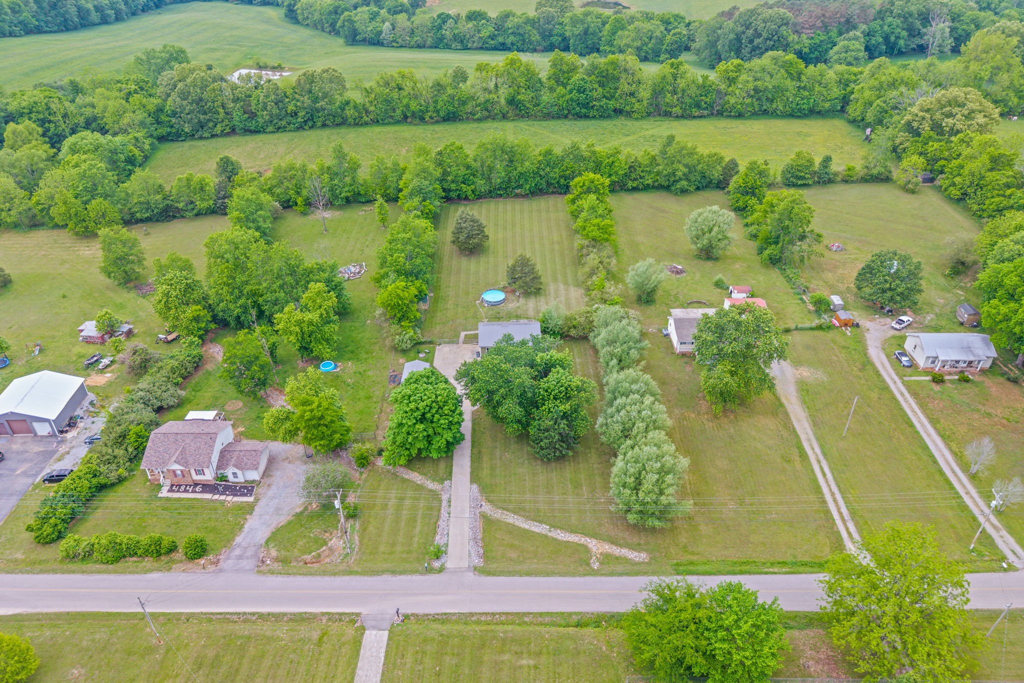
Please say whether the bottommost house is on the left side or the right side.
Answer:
left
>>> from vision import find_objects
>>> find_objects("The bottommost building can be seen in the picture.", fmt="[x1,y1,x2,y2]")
[139,420,271,489]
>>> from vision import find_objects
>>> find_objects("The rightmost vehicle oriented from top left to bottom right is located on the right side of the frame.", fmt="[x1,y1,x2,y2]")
[892,350,916,367]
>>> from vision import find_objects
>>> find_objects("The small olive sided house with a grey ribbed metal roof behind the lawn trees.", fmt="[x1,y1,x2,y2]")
[479,316,543,347]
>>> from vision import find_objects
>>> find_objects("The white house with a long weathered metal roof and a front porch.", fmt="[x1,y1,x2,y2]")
[901,332,998,374]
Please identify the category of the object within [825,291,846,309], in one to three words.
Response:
vehicle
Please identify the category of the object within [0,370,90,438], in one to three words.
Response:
building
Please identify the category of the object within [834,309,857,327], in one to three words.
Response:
shed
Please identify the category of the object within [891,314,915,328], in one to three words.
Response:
vehicle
